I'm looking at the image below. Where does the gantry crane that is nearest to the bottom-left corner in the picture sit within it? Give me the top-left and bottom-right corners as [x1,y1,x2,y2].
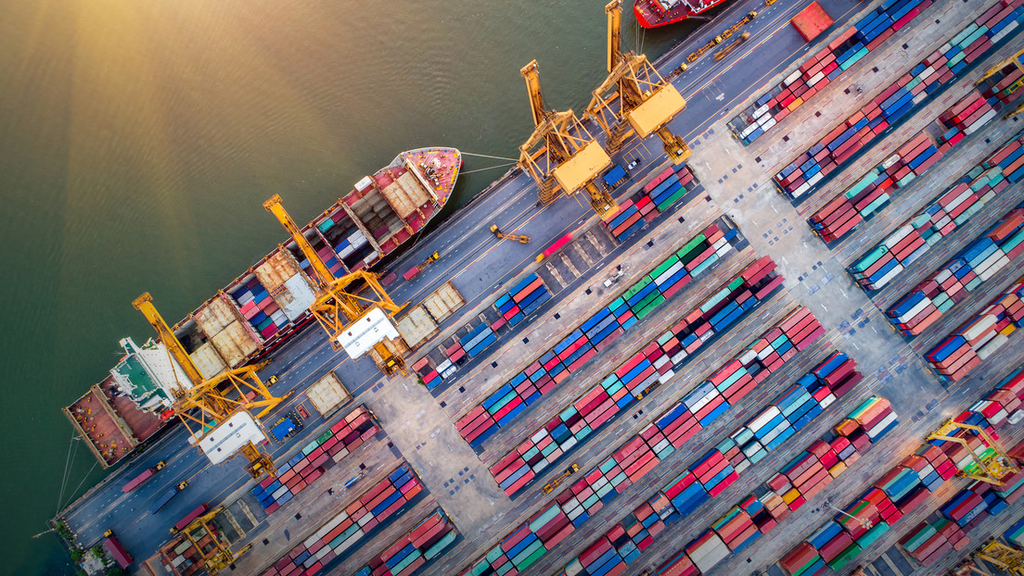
[144,525,203,576]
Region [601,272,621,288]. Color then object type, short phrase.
white vehicle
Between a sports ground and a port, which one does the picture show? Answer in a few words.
port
